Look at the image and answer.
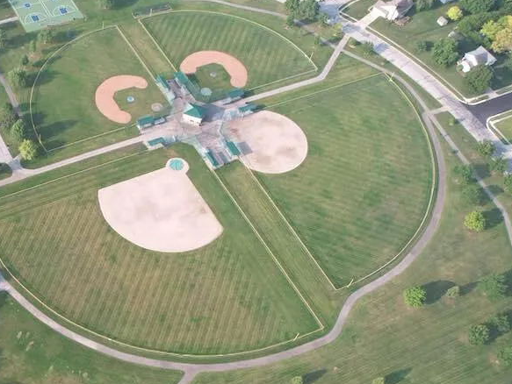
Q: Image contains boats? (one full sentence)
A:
No, no boat is visible in the view.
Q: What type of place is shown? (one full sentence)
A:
The area seen from above is a sports ground.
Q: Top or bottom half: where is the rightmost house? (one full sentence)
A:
It is in the top half that the rightmost house appears.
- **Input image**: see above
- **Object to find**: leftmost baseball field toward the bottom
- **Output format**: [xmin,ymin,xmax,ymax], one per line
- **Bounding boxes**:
[0,135,320,356]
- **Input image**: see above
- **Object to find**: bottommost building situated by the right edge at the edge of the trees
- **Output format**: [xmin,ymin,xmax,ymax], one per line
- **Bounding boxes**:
[449,46,493,77]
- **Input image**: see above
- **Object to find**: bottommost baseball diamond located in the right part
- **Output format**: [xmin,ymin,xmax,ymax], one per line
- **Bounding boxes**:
[220,72,435,289]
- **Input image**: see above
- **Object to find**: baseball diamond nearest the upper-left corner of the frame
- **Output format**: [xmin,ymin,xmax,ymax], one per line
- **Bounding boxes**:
[33,25,174,151]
